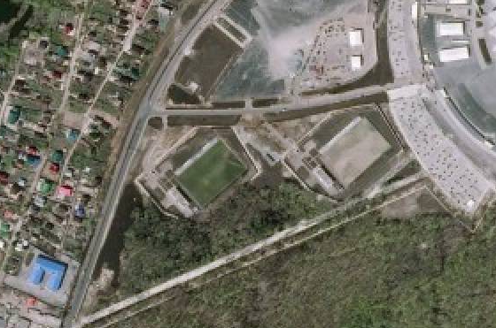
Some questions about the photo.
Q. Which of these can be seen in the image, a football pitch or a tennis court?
football pitch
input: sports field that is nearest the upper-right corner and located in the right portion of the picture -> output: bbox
[321,120,390,188]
